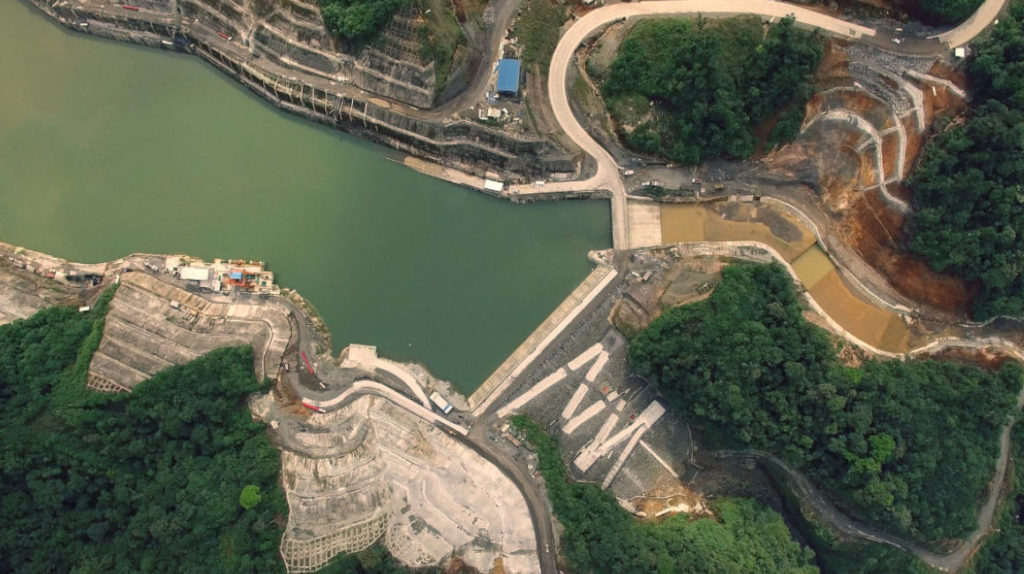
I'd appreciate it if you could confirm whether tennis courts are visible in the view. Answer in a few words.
No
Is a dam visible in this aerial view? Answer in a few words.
Yes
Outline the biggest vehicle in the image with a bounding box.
[428,390,452,416]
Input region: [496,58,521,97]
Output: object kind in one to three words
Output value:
shed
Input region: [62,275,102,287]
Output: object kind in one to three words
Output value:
building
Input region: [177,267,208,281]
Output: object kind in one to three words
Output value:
shed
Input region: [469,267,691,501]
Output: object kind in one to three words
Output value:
dam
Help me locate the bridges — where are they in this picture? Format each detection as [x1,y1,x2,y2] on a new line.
[611,193,630,250]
